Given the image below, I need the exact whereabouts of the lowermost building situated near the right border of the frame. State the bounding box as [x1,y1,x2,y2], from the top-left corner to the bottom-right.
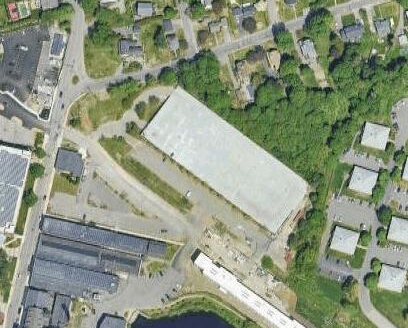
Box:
[378,265,406,293]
